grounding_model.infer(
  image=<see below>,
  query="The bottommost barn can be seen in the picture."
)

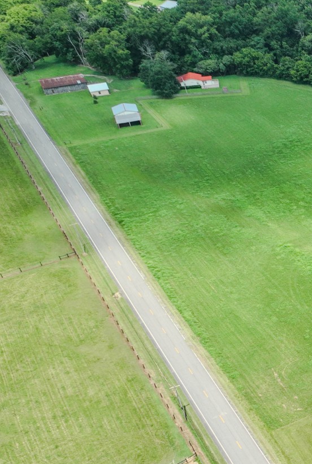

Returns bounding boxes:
[114,107,142,129]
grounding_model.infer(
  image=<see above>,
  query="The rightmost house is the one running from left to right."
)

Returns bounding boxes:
[179,71,222,87]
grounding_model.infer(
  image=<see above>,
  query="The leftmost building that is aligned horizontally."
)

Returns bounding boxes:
[41,76,88,95]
